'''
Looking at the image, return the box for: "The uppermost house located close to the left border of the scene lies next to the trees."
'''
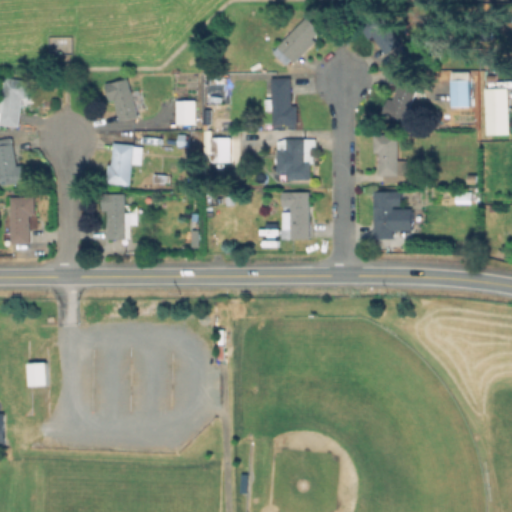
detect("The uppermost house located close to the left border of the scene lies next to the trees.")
[0,79,28,127]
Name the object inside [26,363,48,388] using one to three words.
building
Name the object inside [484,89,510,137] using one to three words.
barn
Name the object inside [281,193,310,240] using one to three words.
house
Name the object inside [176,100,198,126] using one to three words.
building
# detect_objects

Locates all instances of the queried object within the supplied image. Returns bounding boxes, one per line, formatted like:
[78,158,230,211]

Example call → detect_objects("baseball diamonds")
[241,317,486,512]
